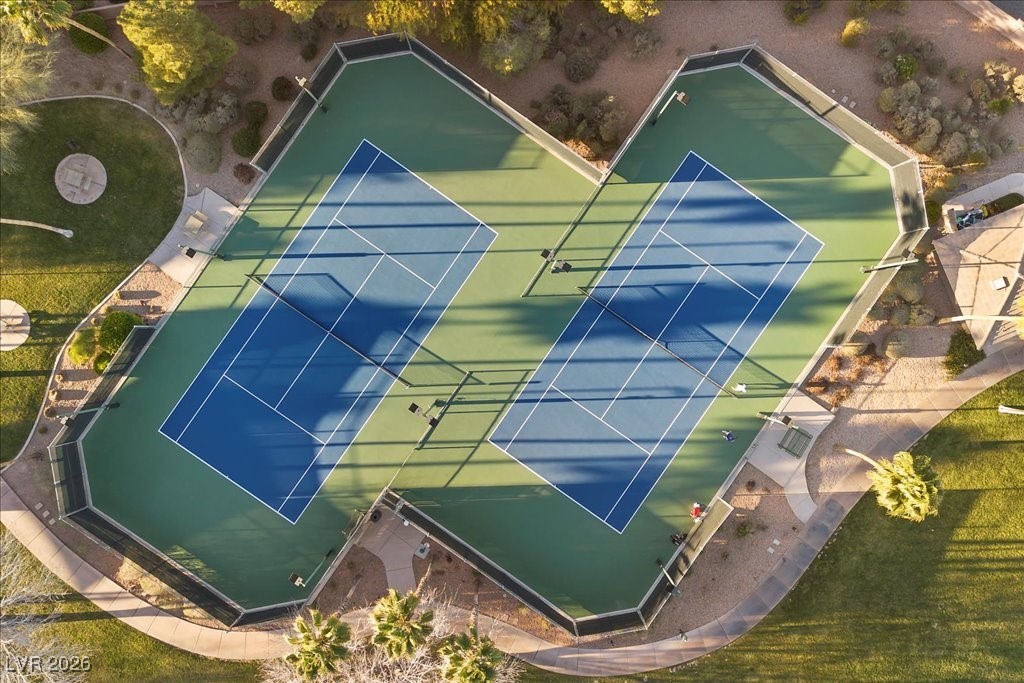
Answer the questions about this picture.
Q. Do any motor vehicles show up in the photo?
No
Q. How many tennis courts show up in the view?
2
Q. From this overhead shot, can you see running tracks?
No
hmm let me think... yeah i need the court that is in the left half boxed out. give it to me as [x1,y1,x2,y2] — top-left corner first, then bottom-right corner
[84,56,598,606]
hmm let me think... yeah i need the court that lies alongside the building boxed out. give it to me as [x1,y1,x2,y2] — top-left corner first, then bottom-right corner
[391,70,894,616]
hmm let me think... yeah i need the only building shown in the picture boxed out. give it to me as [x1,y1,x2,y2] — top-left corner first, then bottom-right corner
[919,197,1024,350]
